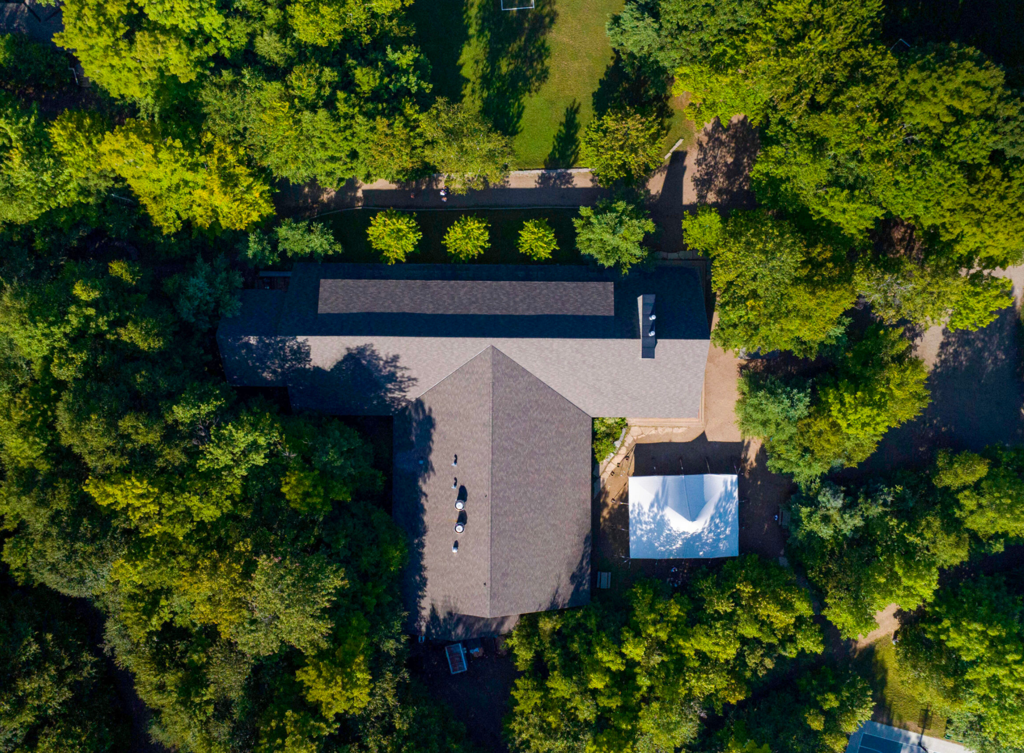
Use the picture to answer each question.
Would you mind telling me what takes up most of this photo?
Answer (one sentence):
The bulk of the photo consists of trees.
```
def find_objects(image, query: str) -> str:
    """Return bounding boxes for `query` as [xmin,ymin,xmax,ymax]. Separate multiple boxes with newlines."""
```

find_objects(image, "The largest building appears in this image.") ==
[214,261,713,641]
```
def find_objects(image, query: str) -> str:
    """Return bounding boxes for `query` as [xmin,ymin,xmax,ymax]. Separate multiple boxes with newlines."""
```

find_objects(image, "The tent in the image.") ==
[609,455,750,571]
